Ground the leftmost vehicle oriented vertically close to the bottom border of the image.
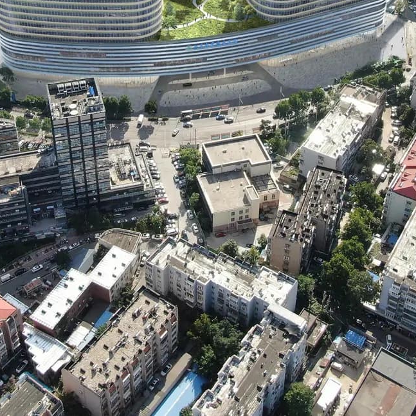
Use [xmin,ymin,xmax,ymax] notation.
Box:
[325,373,340,408]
